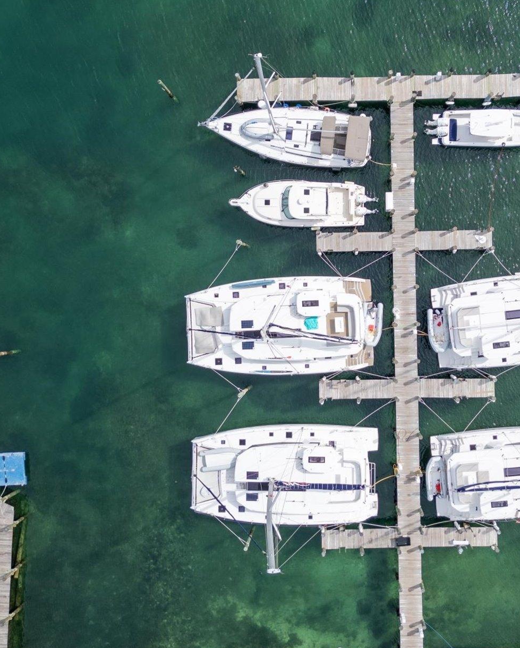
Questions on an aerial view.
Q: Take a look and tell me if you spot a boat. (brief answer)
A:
Yes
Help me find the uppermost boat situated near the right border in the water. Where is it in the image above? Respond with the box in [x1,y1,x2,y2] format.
[421,109,520,147]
